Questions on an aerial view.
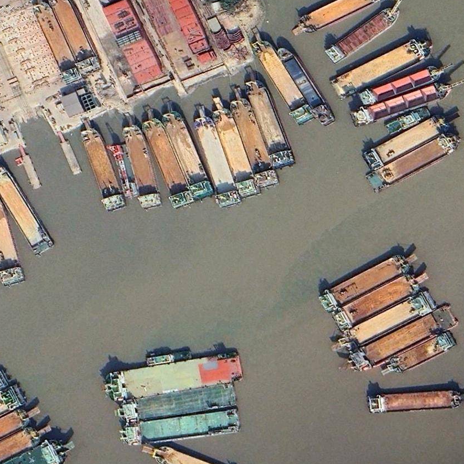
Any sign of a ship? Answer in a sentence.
Yes, you can see a ship in this photo.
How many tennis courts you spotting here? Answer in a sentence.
The photo contains no tennis courts.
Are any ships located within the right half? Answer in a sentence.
Yes, a ship can be seen within the right half.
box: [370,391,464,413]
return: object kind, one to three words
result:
ship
